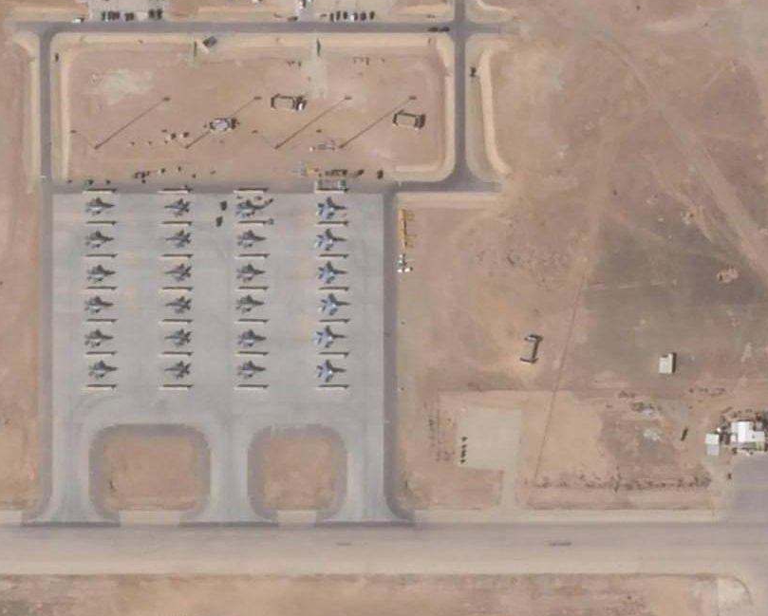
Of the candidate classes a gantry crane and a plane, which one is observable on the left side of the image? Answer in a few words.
plane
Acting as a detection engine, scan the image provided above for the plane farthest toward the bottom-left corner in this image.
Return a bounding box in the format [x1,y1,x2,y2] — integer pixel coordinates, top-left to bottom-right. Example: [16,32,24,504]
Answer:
[88,361,114,380]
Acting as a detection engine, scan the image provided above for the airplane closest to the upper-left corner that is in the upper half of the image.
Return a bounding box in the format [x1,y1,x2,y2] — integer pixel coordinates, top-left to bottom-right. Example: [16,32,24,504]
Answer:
[85,198,112,217]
